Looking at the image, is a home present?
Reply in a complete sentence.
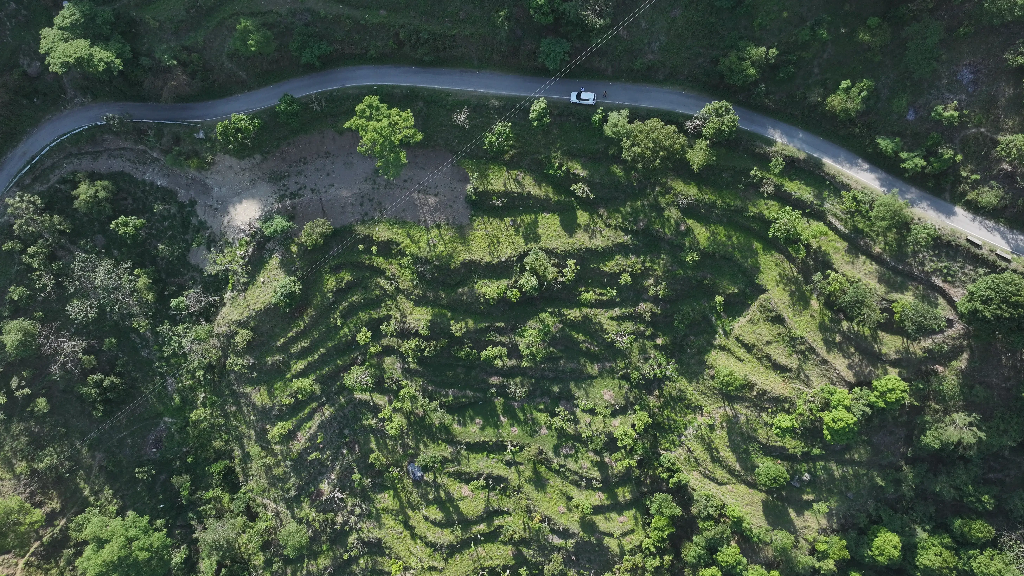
No, there is no home in the image.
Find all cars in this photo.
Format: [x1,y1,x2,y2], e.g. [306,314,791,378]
[569,91,596,107]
